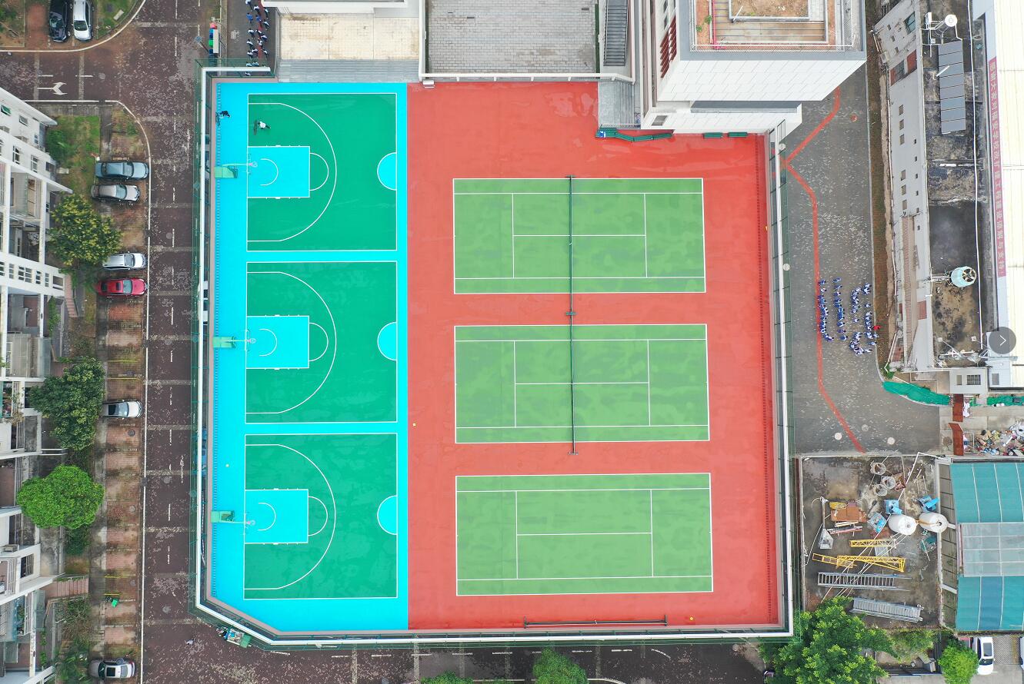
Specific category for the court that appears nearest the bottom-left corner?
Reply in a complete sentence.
From above, the court that appears nearest the bottom-left corner can be identified as a basketball court.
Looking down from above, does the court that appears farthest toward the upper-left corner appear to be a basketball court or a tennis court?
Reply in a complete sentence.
The court that appears farthest toward the upper-left corner appears to be a basketball court.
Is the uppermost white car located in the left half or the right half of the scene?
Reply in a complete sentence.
You can find the uppermost white car on the left side of the picture.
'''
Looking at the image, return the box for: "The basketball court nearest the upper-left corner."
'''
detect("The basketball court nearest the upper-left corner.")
[246,93,397,251]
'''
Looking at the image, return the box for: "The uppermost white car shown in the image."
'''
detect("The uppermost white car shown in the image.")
[69,0,94,37]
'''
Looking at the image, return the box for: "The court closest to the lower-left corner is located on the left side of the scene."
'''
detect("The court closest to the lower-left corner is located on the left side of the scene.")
[243,433,398,601]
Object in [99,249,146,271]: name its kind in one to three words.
car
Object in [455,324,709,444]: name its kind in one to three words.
tennis court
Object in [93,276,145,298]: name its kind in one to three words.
car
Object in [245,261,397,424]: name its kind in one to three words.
basketball court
